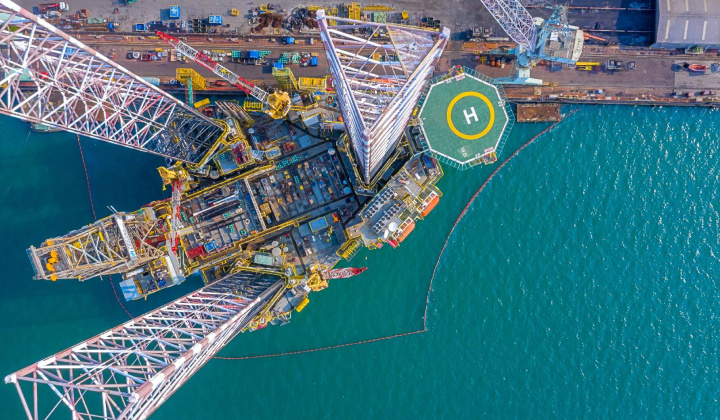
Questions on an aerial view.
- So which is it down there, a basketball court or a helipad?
helipad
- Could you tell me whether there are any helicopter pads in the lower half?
No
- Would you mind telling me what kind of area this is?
port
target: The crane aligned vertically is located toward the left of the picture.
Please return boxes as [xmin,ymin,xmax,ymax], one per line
[160,162,195,261]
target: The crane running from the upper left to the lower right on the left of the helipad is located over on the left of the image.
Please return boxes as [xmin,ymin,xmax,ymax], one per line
[155,28,300,122]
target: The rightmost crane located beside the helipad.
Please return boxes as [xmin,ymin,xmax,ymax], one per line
[464,0,589,93]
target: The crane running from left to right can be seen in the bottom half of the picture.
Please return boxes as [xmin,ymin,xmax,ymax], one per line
[306,265,369,288]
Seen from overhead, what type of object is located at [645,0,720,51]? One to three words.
building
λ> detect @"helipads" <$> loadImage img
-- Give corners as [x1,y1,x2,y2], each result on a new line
[413,64,515,170]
